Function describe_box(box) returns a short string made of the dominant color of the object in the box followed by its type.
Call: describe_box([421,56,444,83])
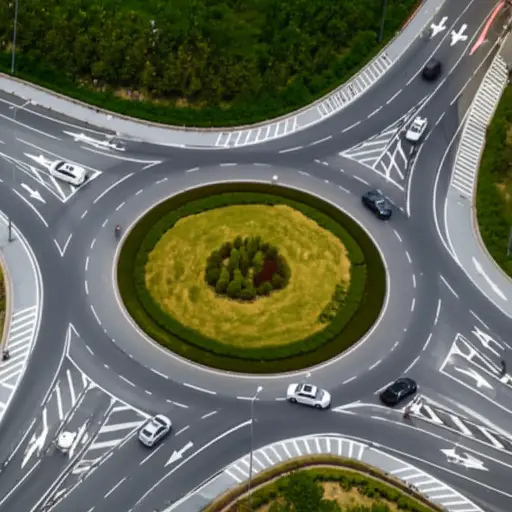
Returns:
black car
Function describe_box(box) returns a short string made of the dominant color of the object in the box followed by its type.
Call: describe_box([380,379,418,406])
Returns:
black car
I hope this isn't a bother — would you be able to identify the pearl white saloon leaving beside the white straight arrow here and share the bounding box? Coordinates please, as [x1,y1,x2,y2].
[139,414,174,447]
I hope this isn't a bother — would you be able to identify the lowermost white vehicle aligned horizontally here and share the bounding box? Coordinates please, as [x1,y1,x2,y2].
[287,384,331,408]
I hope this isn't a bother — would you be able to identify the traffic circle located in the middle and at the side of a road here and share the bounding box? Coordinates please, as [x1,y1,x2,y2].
[73,155,428,408]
